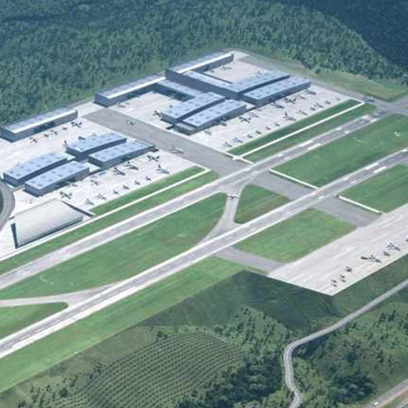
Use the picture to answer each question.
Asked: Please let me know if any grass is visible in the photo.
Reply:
Yes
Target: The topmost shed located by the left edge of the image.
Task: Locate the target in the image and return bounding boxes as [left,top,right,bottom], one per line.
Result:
[1,105,75,140]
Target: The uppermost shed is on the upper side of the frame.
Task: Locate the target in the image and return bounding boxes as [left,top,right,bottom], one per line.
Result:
[167,50,233,80]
